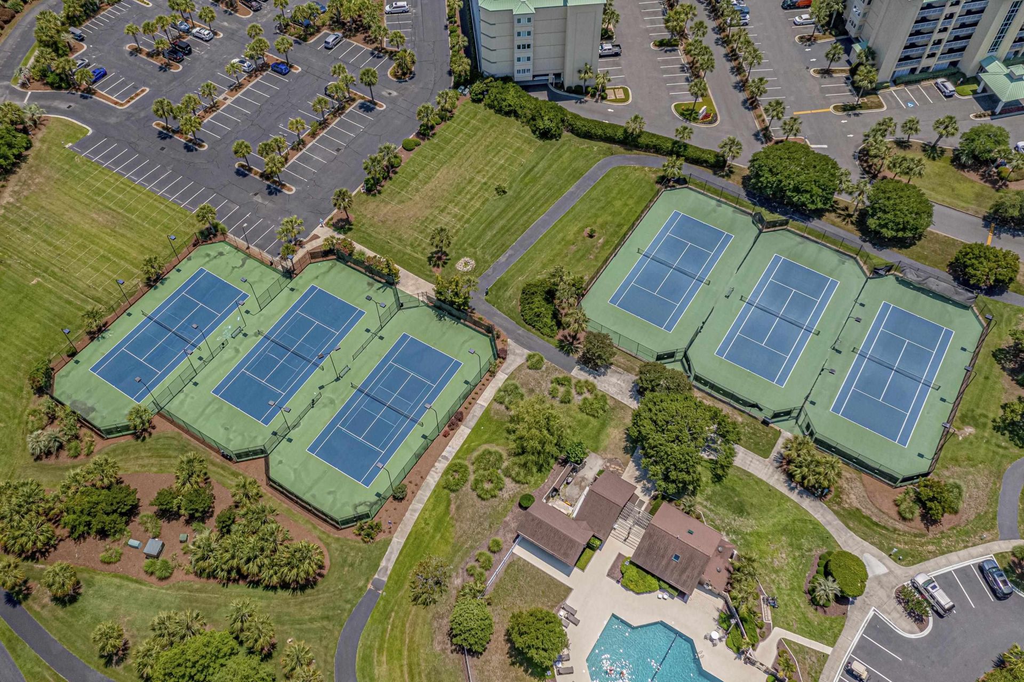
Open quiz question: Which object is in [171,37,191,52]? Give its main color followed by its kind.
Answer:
black car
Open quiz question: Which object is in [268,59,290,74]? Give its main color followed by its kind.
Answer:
blue car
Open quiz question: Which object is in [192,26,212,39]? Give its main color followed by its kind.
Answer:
gray vehicle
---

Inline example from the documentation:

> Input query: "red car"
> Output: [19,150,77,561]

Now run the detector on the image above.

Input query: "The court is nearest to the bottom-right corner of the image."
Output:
[796,275,982,488]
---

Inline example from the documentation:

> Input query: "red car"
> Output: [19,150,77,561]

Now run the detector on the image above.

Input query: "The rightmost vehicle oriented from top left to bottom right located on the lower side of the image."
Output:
[982,556,1018,596]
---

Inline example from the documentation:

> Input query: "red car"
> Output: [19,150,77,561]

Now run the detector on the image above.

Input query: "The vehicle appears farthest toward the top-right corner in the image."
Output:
[937,76,962,95]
